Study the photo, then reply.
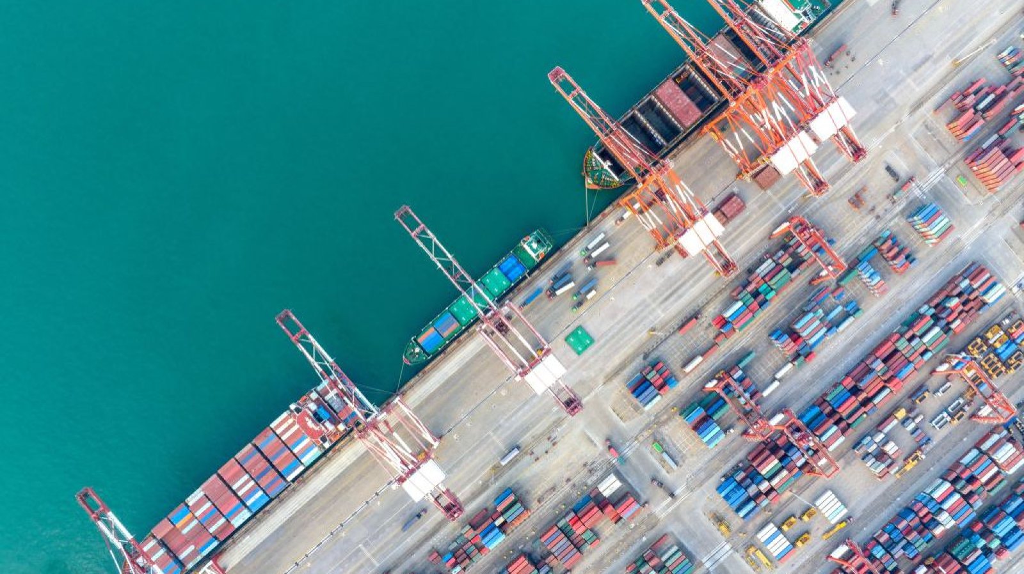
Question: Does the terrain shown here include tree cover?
No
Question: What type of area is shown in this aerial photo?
port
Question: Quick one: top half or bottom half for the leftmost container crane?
bottom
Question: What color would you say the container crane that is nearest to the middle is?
white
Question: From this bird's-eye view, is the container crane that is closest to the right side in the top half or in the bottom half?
bottom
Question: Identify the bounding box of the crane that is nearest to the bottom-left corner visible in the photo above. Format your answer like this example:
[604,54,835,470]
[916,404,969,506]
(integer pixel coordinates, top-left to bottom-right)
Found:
[75,486,167,574]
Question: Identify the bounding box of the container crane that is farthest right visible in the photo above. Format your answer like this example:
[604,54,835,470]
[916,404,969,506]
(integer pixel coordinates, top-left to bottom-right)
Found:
[930,359,1015,423]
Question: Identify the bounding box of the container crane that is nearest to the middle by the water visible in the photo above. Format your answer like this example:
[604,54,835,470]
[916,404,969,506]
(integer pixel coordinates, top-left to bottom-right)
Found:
[395,206,583,417]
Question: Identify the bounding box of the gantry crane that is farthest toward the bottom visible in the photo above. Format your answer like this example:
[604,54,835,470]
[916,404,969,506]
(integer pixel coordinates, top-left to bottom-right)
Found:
[827,542,881,574]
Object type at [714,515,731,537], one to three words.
work vehicle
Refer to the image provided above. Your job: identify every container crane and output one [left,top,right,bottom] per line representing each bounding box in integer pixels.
[551,68,739,280]
[75,486,167,574]
[700,376,773,440]
[395,206,583,417]
[642,0,830,200]
[764,413,839,479]
[276,310,464,521]
[707,0,868,167]
[769,217,846,287]
[930,359,1015,423]
[827,542,881,574]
